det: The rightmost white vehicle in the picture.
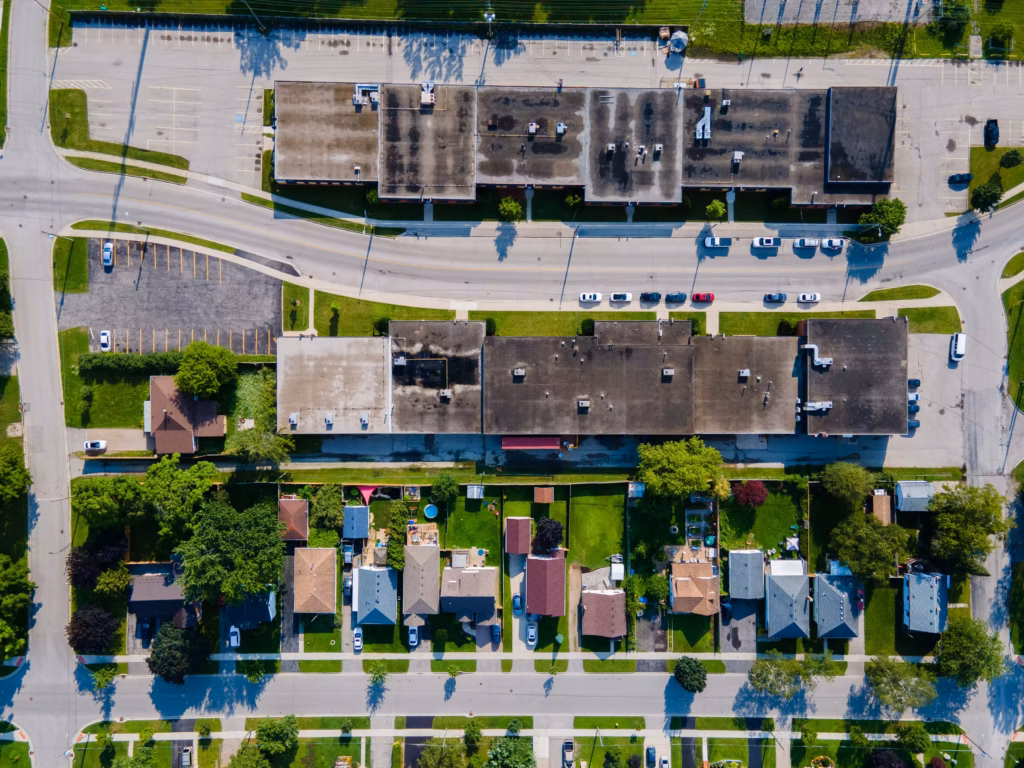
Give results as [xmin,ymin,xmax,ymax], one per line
[952,332,967,361]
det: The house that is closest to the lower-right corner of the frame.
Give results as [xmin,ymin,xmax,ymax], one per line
[904,572,947,636]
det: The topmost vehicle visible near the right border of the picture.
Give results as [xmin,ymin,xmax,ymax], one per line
[985,120,998,147]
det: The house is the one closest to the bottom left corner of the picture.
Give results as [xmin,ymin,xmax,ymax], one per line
[126,562,201,629]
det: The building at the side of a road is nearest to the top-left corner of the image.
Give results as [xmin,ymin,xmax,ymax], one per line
[274,81,379,186]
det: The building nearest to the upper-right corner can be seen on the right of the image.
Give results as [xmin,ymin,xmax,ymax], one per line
[826,86,897,184]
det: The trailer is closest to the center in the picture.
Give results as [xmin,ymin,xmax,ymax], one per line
[502,436,560,449]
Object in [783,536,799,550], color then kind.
white gazebo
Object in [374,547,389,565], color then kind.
gray gazebo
